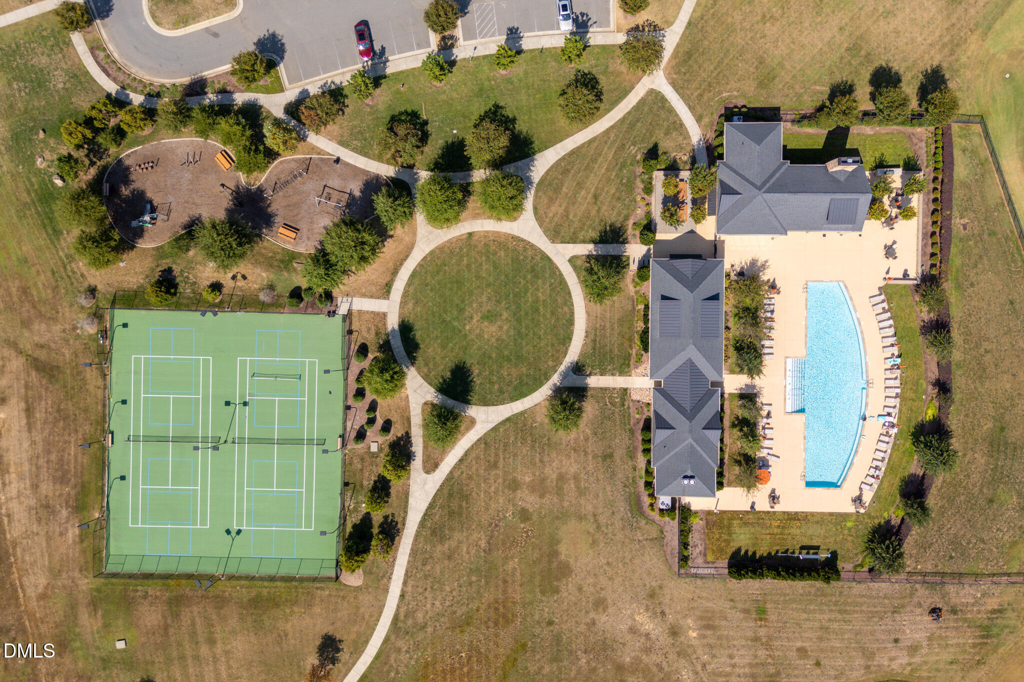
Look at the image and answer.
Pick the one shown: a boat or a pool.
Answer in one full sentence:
Looking from above, you can make out a pool.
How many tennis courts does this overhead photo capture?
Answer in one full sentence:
In total, there are 2 tennis courts in the scene.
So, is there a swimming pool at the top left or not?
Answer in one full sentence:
No, I see no swimming pool at the top left.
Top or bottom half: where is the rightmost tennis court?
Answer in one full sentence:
The bottom half of the photo is where the rightmost tennis court is.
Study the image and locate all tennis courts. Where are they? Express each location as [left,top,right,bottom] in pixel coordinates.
[221,313,346,576]
[105,310,226,574]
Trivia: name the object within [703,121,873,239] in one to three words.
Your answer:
building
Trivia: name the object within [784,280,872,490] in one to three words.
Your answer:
swimming pool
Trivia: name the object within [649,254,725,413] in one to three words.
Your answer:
building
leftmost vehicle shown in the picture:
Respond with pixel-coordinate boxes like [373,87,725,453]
[354,23,372,60]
